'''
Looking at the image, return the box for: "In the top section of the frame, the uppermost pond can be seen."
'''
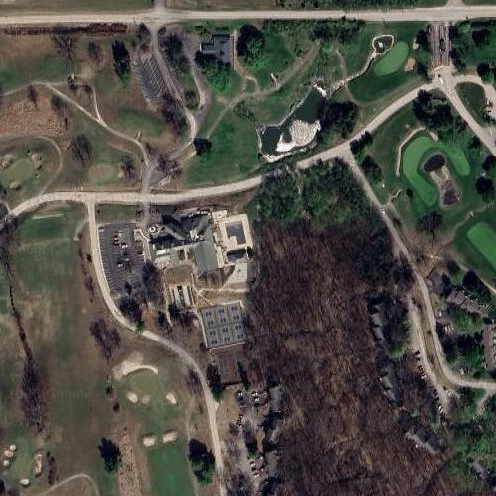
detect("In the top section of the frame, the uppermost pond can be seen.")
[257,86,326,161]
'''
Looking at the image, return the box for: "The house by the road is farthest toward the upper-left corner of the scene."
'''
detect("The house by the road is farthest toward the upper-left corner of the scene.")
[200,34,234,67]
